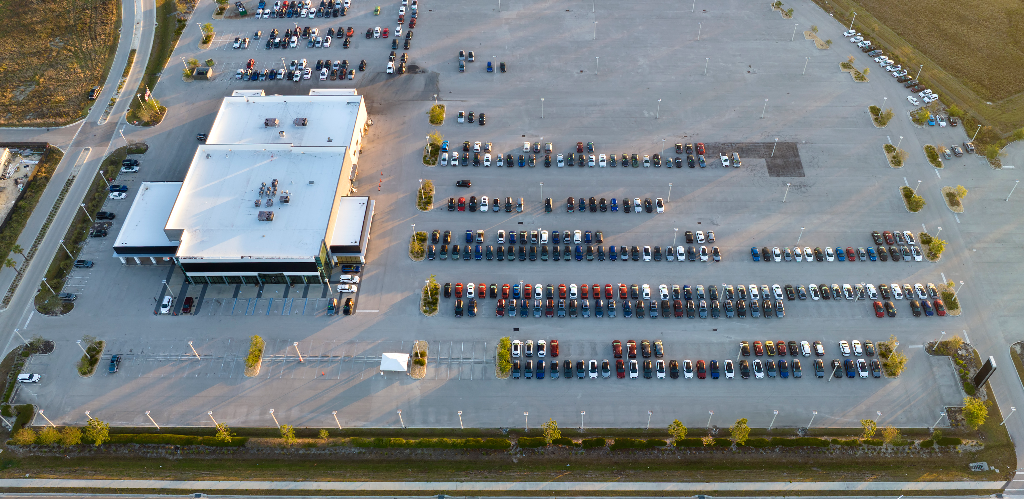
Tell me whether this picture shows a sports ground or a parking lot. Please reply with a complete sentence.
This image shows a parking lot.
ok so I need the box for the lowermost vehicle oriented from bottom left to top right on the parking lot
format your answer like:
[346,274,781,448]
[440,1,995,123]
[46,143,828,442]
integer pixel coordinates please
[106,354,124,374]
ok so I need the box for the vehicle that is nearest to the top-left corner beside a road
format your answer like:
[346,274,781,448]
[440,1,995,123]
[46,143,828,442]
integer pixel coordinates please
[89,86,102,99]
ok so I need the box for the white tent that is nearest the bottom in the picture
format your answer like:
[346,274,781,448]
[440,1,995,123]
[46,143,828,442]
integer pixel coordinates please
[380,353,409,376]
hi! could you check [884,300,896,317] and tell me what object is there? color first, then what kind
black vehicle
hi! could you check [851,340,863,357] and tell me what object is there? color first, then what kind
white vehicle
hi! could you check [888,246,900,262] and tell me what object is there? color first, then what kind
black vehicle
